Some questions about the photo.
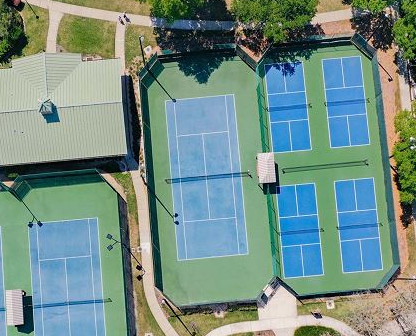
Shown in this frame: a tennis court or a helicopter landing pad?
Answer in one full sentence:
The one in the frame is a tennis court.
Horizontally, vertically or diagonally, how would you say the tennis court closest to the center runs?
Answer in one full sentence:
In this picture, the tennis court closest to the center lies vertically.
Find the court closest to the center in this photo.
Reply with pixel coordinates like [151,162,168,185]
[166,94,248,261]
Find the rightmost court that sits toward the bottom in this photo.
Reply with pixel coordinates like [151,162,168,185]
[334,177,383,274]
